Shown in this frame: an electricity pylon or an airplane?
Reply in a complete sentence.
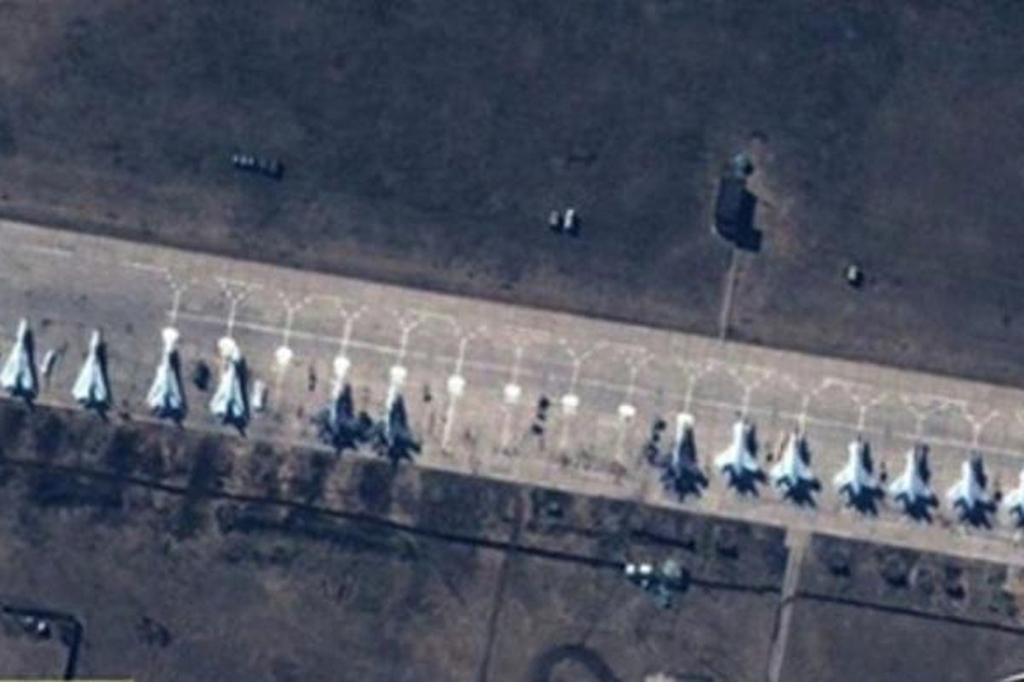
It is an airplane that can be seen here.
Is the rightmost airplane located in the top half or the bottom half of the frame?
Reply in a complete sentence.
It is in the bottom half that the rightmost airplane appears.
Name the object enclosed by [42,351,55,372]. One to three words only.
vehicle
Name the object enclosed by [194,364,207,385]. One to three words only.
vehicle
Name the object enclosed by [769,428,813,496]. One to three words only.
airplane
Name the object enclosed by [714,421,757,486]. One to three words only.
airplane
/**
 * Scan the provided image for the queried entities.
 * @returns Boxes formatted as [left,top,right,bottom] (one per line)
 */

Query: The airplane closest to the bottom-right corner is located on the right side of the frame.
[1004,484,1024,525]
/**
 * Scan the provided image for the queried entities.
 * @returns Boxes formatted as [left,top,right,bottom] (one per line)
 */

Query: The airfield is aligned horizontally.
[0,219,1024,565]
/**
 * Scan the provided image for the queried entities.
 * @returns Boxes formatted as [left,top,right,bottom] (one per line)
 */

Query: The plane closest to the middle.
[371,392,414,457]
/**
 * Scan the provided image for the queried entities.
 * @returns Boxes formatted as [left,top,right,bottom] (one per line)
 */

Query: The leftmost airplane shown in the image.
[2,317,33,387]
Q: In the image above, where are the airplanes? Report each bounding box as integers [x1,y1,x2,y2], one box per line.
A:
[659,425,703,491]
[148,334,179,406]
[319,380,362,448]
[947,448,991,516]
[833,439,876,504]
[714,421,757,486]
[889,442,933,510]
[212,342,243,415]
[769,428,813,496]
[2,317,33,387]
[74,330,105,399]
[1004,484,1024,525]
[371,392,414,457]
